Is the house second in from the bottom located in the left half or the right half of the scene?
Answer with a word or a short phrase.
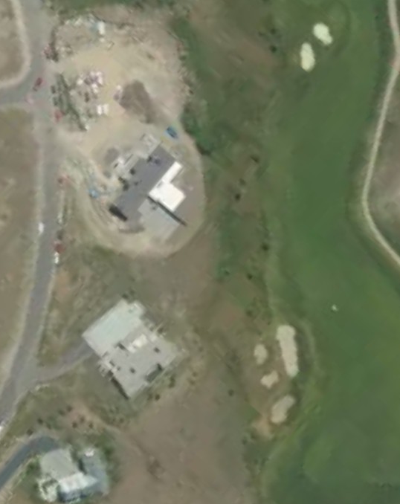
left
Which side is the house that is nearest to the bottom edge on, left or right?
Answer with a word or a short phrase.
left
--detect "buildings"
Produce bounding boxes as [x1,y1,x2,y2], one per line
[81,298,180,399]
[112,135,186,239]
[38,448,108,503]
